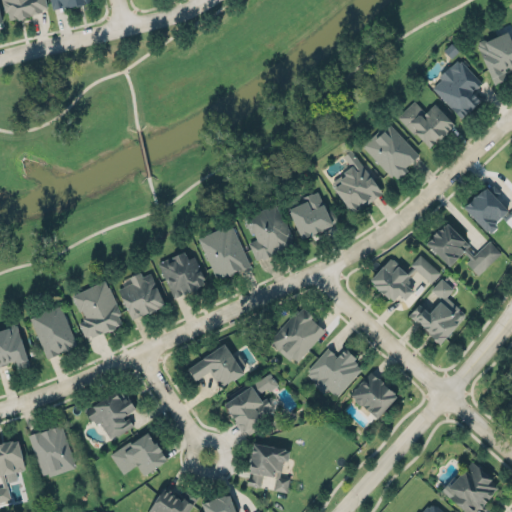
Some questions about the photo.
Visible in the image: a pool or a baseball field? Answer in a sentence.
Looking from above, you can make out a pool.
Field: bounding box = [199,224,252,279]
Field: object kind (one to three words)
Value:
house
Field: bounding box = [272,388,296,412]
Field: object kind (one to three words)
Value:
swimming pool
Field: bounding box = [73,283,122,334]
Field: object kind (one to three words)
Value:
house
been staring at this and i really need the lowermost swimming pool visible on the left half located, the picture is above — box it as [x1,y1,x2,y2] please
[9,480,28,505]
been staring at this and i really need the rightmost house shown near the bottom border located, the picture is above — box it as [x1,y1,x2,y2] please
[444,462,498,512]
